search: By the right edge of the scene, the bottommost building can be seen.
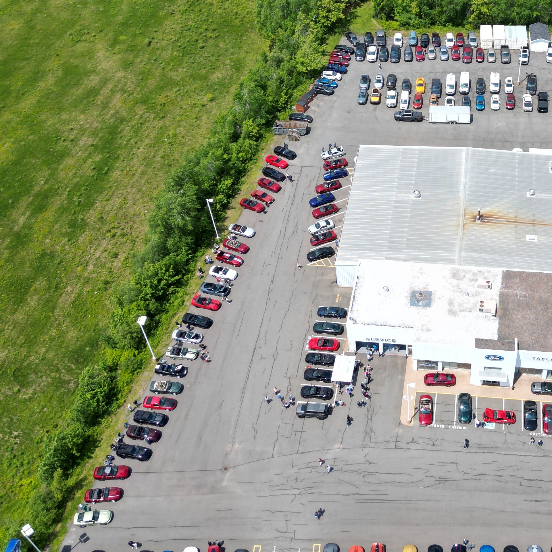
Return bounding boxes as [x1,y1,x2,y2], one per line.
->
[333,144,552,394]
